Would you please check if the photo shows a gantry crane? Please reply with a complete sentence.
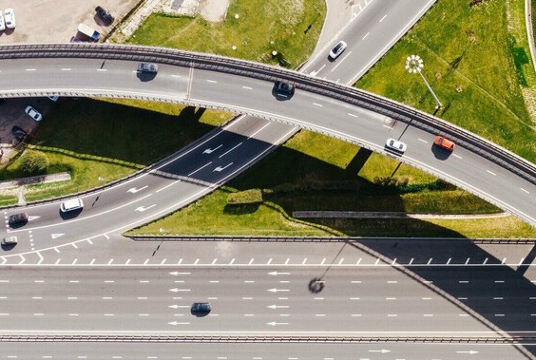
No, no gantry crane can be seen from above.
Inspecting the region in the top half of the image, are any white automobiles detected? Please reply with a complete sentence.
Yes, a white automobile appears in the top half of the image.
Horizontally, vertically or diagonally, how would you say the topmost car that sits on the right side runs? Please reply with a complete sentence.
In this picture, the topmost car that sits on the right side is oriented diagonally.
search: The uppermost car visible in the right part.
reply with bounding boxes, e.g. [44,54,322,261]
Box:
[327,40,347,61]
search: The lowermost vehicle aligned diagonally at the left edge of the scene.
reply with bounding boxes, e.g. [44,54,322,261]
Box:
[9,126,30,143]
